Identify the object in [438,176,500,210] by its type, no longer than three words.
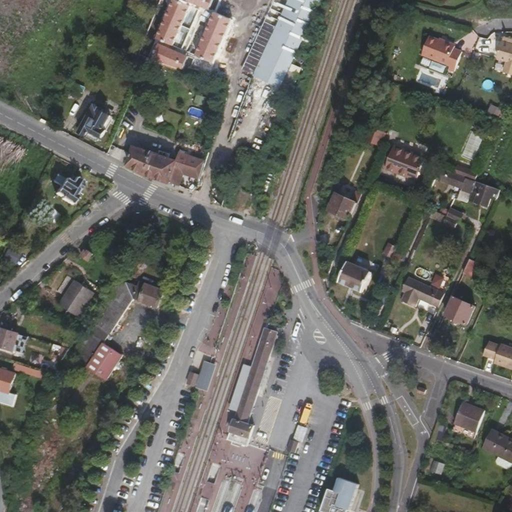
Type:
house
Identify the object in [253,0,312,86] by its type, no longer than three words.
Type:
building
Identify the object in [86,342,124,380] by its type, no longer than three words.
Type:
building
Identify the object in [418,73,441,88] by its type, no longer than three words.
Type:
swimming pool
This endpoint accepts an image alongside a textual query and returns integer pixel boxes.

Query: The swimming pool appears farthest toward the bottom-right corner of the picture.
[414,268,431,280]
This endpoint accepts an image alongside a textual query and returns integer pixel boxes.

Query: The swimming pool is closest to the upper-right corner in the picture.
[480,78,496,92]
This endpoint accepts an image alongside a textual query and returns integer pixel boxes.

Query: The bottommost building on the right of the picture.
[318,478,368,512]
